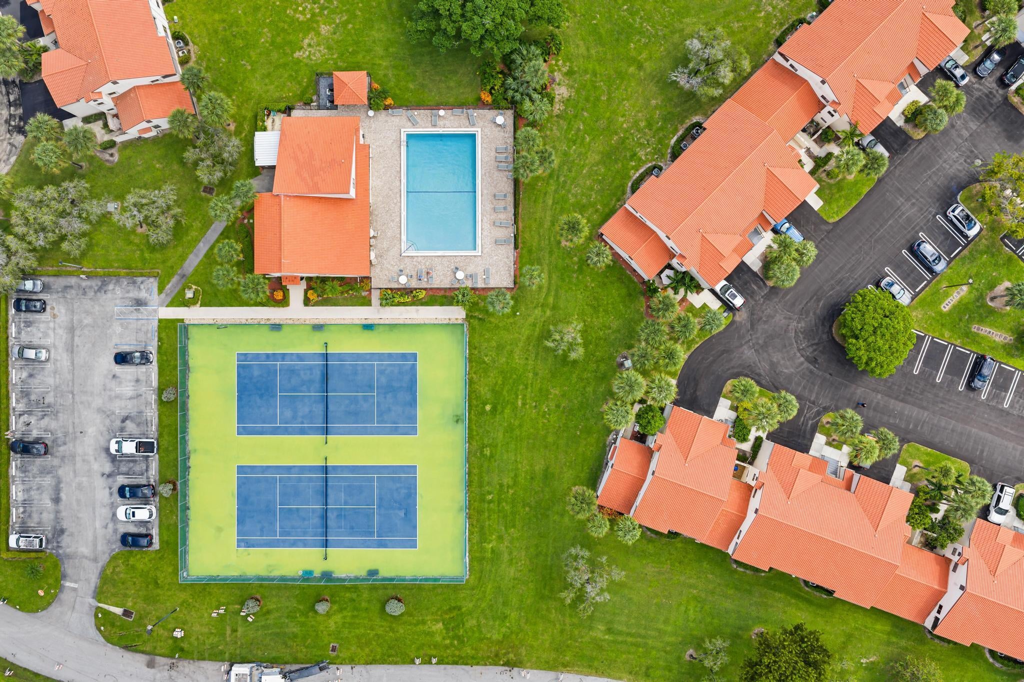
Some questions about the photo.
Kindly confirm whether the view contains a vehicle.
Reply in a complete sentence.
Yes, the image includes a vehicle.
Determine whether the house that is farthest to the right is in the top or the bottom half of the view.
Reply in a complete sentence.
Seen from above, the house that is farthest to the right lies in the bottom half of the view.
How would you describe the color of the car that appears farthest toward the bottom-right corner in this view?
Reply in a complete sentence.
The car that appears farthest toward the bottom-right corner is white.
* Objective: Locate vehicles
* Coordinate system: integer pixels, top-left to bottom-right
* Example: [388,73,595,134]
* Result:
[12,345,51,362]
[935,56,970,88]
[12,296,49,314]
[9,532,48,551]
[771,218,805,246]
[973,47,1008,80]
[109,438,159,456]
[1000,49,1024,83]
[967,354,996,390]
[117,505,157,522]
[118,483,156,501]
[945,203,980,239]
[910,239,947,274]
[713,278,746,312]
[114,349,156,366]
[121,532,155,549]
[856,132,892,161]
[986,483,1014,523]
[10,439,51,457]
[876,274,911,301]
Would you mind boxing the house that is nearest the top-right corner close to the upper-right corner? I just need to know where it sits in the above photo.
[729,0,968,146]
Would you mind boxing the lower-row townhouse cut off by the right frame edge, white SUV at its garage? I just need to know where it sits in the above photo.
[869,518,1024,661]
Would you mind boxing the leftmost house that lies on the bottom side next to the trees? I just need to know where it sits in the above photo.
[597,406,740,542]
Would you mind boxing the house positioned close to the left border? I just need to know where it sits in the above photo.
[23,0,201,138]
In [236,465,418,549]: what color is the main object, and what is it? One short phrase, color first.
blue tennis court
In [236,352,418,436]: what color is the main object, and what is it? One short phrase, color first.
blue tennis court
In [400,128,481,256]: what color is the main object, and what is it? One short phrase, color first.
blue swimming pool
